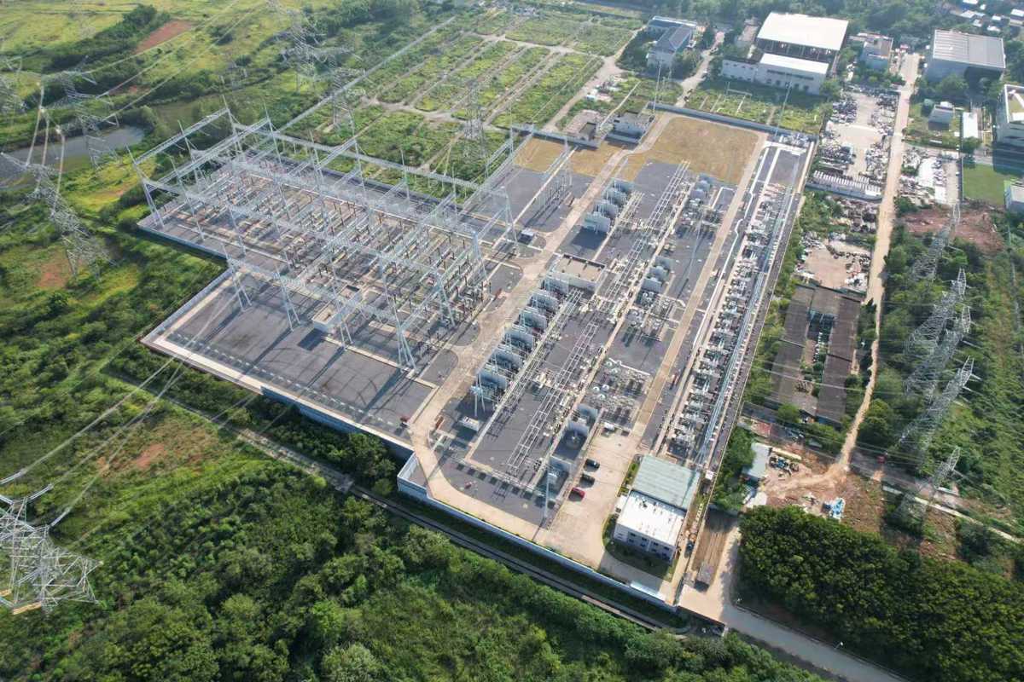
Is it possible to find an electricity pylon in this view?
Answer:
Yes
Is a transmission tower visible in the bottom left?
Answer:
Yes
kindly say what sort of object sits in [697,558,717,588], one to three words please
vehicle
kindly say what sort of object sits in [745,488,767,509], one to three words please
shed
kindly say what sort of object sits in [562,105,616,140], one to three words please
house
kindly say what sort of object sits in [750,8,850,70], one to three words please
building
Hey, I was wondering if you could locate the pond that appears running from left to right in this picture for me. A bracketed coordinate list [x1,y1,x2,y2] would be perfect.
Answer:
[0,128,142,180]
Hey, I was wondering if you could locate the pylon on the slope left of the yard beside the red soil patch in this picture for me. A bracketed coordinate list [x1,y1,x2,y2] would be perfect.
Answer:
[23,170,135,287]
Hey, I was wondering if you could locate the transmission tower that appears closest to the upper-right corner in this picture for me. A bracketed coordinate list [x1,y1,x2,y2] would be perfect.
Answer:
[899,205,957,292]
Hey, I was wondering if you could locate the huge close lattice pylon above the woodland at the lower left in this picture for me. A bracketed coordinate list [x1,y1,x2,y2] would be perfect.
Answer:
[0,480,116,621]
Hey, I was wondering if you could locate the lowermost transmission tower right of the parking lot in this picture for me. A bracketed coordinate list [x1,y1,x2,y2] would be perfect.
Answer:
[880,447,959,534]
